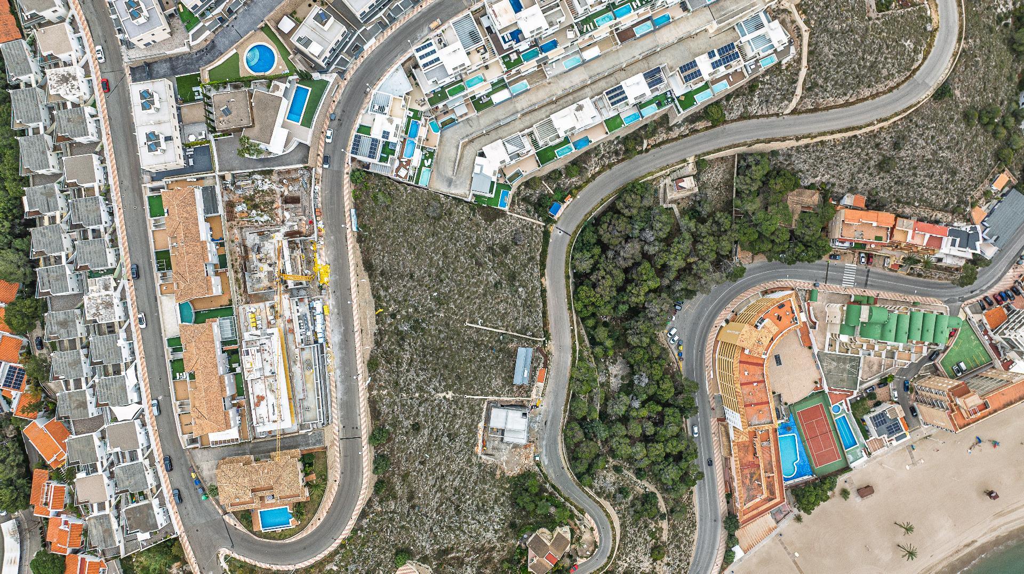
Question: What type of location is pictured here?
residential area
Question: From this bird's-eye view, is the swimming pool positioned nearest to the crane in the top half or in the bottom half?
bottom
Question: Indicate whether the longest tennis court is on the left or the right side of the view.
right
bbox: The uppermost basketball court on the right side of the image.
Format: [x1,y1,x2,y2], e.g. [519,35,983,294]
[818,351,863,390]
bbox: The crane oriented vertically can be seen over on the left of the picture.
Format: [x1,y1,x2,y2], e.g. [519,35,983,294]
[272,241,320,463]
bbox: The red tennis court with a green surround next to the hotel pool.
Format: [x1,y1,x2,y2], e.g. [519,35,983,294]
[789,394,852,479]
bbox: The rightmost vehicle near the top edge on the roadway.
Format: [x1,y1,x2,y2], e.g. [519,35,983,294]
[426,15,444,30]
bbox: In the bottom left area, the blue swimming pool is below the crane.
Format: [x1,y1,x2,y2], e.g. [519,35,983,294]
[264,506,295,532]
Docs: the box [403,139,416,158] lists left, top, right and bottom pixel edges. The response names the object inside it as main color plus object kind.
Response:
blue swimming pool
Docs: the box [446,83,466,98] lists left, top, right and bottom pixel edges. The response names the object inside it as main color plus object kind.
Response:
green swimming pool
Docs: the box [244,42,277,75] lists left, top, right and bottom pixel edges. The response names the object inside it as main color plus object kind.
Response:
blue swimming pool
